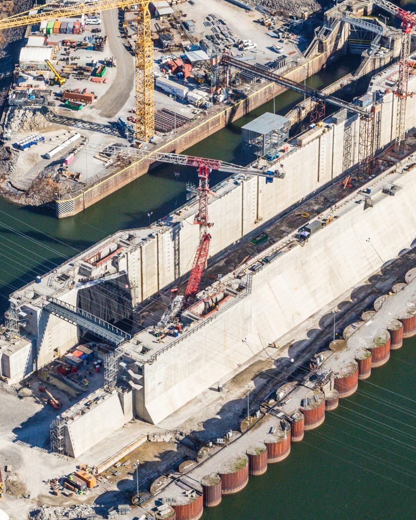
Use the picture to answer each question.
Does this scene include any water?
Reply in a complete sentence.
Yes, some water is visible.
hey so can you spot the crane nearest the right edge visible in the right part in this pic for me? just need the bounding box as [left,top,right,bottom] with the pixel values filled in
[337,0,416,152]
